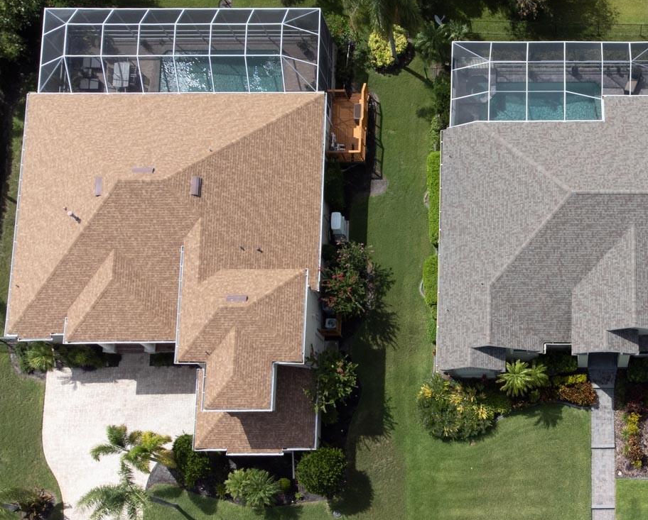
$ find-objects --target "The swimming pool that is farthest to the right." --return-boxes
[486,77,605,119]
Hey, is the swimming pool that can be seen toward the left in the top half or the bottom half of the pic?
top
